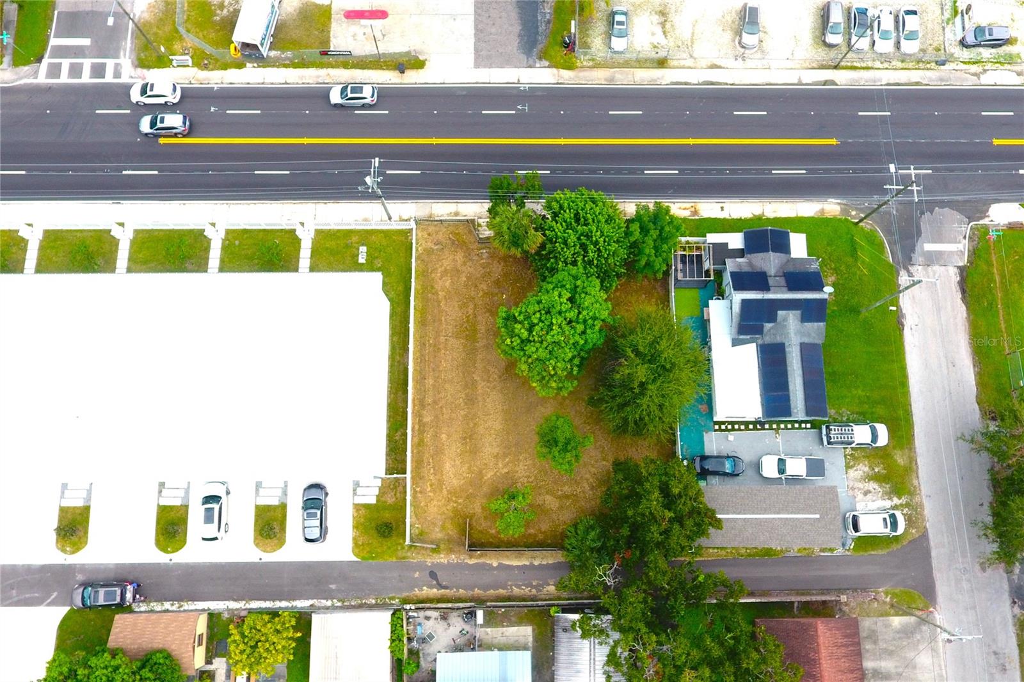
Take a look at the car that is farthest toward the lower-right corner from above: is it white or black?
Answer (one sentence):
The color of the car that is farthest toward the lower-right corner is white.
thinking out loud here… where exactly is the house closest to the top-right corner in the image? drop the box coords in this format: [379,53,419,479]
[699,228,831,421]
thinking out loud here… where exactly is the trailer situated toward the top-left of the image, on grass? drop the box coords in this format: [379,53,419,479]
[227,0,274,65]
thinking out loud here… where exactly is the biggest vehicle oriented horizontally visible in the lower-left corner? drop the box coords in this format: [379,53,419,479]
[70,581,133,612]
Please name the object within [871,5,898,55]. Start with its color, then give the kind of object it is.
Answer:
white car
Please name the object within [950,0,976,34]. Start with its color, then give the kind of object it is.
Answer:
white trailer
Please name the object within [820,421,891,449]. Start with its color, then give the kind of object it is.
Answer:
white truck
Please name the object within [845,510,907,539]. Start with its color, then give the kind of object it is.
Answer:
white car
